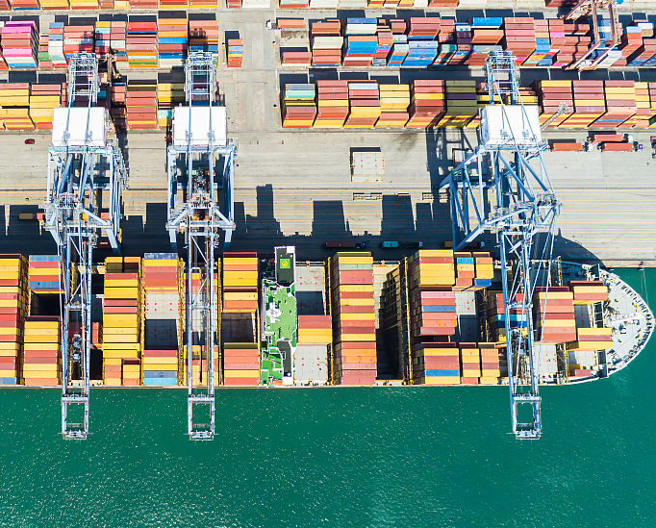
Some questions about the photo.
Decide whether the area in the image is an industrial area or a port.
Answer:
port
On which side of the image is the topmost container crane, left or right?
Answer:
right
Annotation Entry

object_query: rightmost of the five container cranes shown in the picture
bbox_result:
[560,0,621,71]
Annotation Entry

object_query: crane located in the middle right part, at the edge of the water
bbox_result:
[424,45,564,448]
